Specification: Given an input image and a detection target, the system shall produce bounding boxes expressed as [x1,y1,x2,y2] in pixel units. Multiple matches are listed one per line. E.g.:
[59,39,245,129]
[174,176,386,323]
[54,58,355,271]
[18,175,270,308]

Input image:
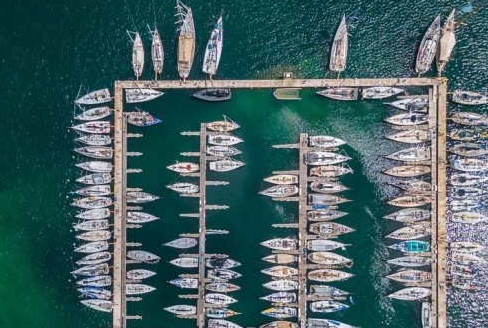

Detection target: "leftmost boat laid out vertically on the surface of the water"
[125,2,145,82]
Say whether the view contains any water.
Yes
